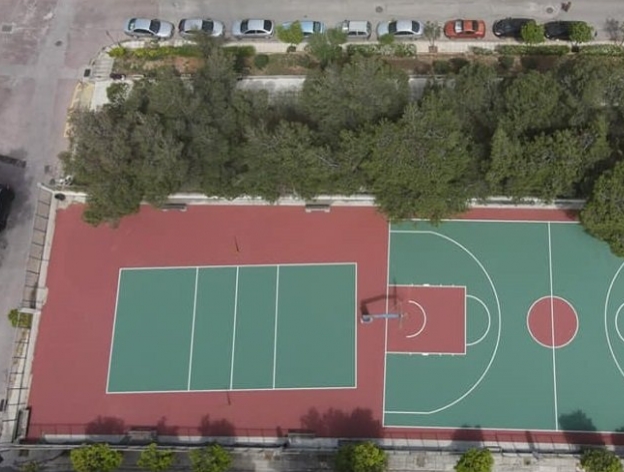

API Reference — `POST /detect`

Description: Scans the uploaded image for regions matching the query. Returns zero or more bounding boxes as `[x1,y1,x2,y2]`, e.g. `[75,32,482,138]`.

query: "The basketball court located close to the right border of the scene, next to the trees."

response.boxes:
[381,219,624,433]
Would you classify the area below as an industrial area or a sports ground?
sports ground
